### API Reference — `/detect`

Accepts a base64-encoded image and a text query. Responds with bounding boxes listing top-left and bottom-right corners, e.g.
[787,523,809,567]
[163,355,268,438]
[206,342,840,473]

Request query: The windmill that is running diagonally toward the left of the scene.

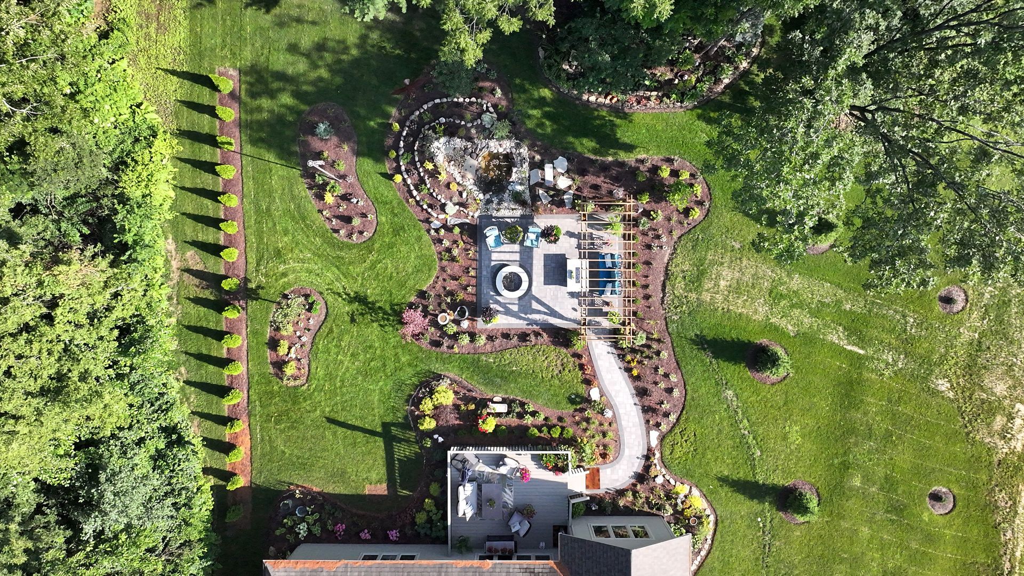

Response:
[307,159,344,182]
